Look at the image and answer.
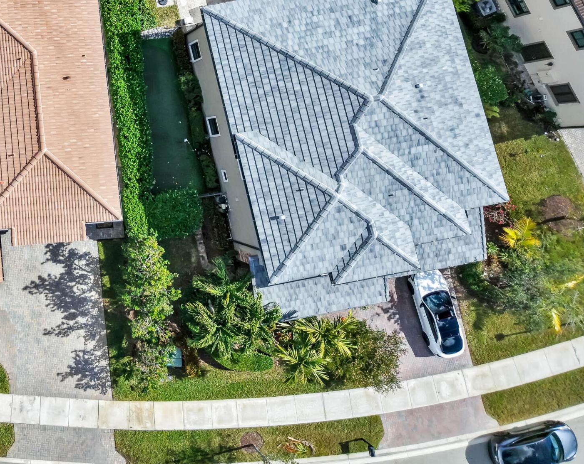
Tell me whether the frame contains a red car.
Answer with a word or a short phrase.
No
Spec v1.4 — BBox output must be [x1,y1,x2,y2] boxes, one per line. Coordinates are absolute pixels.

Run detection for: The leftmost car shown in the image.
[401,271,462,359]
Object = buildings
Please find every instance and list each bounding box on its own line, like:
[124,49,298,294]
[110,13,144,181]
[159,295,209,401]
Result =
[492,0,584,152]
[183,0,511,326]
[0,0,123,282]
